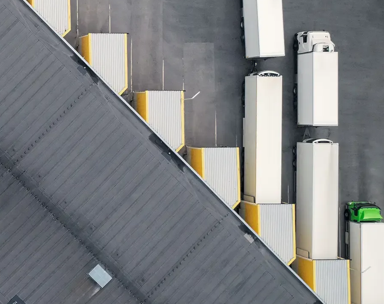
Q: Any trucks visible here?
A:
Yes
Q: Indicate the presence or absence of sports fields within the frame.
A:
No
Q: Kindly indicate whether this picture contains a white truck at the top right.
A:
Yes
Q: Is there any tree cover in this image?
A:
No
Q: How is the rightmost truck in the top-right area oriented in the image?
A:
vertically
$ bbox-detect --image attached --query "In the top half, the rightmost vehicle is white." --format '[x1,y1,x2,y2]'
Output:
[290,31,338,130]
